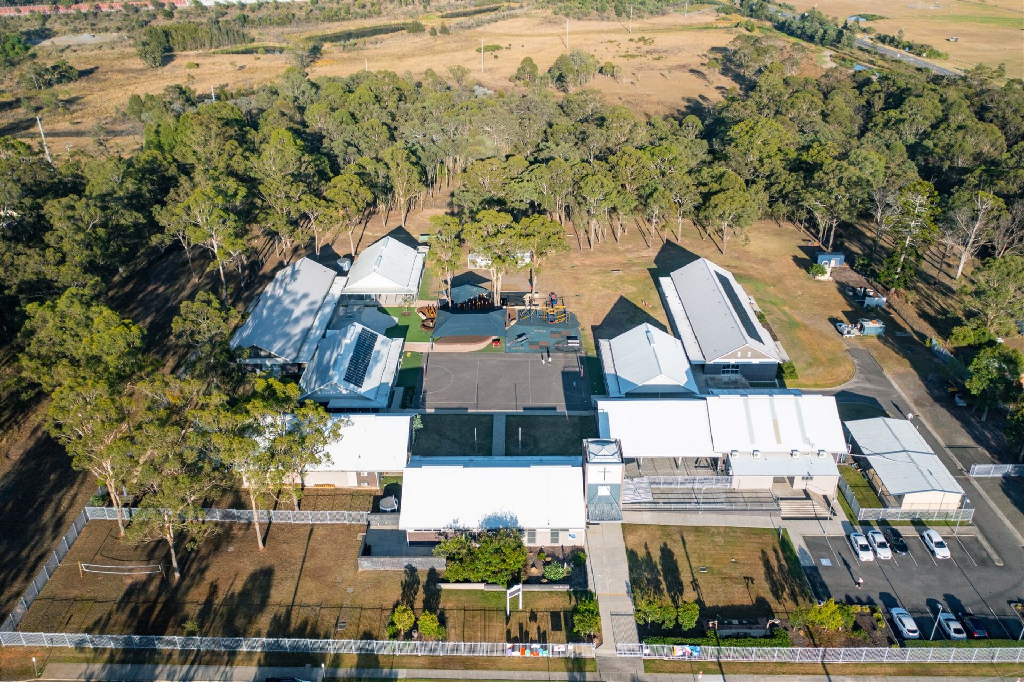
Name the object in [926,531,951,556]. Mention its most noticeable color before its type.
white car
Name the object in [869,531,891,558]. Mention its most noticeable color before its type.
white car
